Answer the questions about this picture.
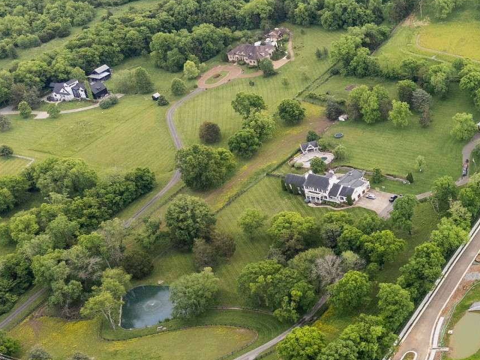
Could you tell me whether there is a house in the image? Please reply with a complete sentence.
Yes, the image includes a house.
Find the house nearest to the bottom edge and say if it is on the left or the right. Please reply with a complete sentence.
It is on the right.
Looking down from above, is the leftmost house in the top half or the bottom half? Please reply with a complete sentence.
The leftmost house is in the top half of the image.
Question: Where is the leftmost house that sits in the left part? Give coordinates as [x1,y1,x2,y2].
[52,80,93,102]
